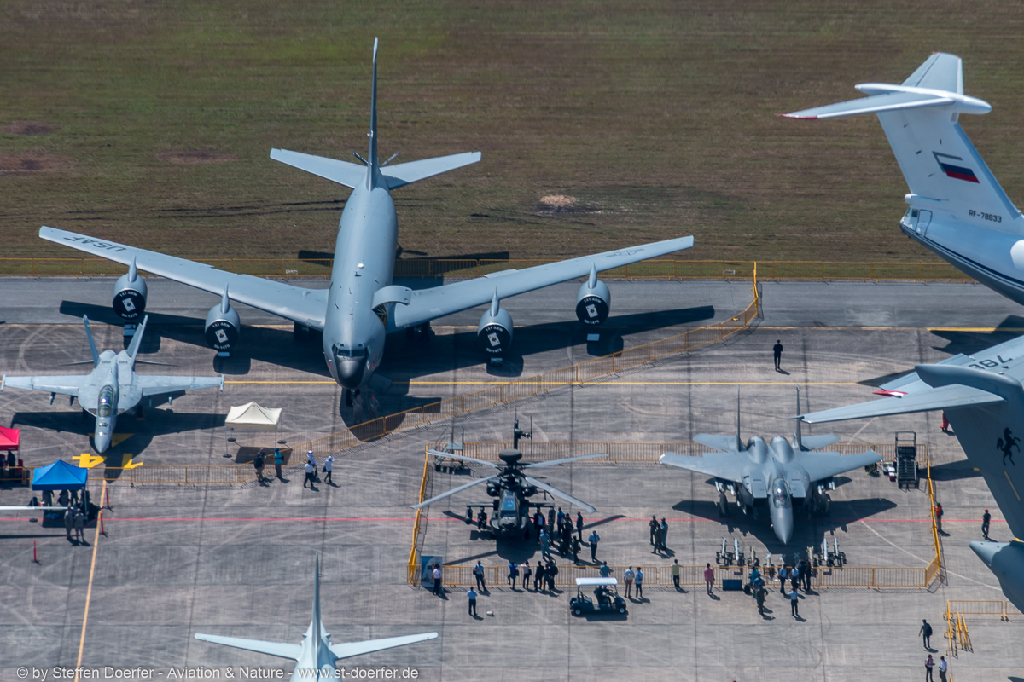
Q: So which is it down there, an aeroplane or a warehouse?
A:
aeroplane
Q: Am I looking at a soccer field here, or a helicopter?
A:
helicopter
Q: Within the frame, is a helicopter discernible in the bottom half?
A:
Yes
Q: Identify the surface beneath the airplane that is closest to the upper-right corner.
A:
grass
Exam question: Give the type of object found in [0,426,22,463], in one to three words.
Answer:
tent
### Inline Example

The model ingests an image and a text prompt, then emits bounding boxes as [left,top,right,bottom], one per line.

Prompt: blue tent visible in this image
[28,461,93,521]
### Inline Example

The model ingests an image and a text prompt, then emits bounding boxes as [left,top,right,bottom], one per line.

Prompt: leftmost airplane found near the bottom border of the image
[195,550,440,682]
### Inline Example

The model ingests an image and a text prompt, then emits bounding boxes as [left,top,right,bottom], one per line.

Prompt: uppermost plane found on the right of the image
[776,52,1024,398]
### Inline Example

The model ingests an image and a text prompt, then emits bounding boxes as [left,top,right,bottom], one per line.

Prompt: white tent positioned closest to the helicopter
[223,400,286,457]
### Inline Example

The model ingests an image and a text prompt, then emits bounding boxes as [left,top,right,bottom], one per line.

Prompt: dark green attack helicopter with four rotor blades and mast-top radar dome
[412,407,606,539]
